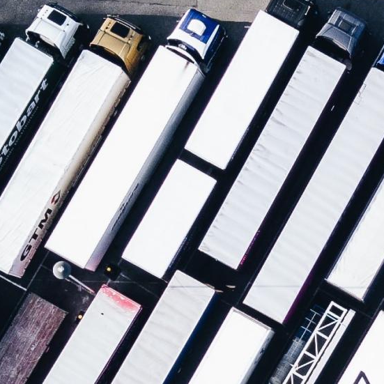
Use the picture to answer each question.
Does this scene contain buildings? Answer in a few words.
No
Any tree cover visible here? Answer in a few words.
No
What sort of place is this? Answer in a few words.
parking lot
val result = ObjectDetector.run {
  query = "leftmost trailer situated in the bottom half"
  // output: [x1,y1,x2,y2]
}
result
[0,295,68,384]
